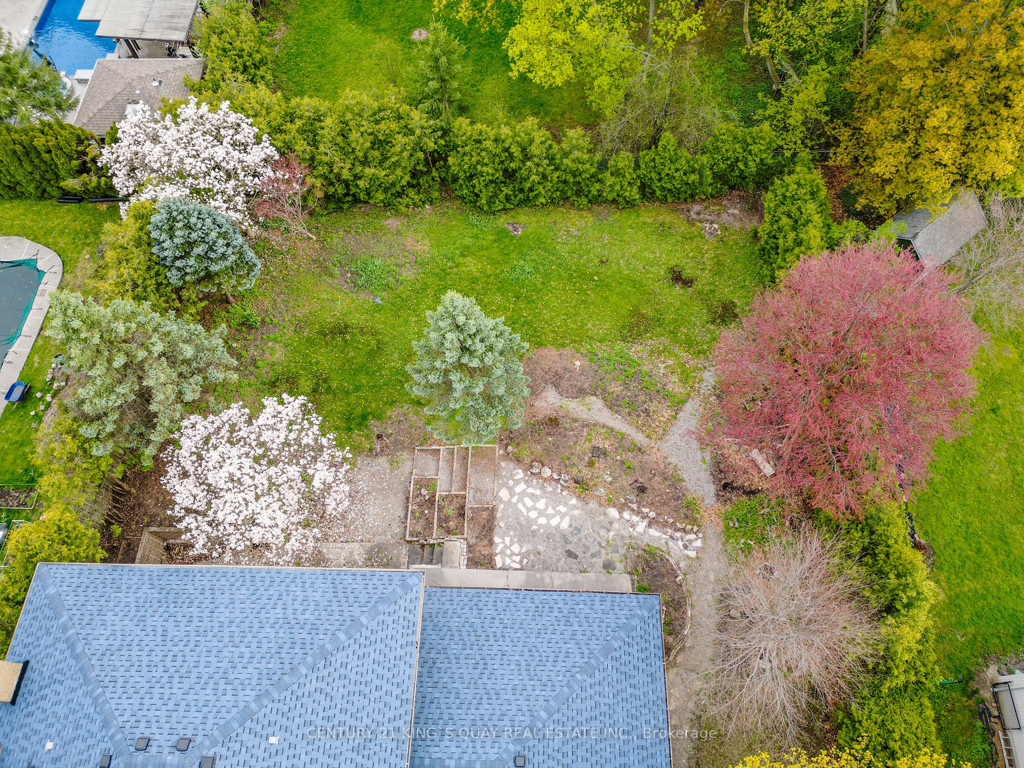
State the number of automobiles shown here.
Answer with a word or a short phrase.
0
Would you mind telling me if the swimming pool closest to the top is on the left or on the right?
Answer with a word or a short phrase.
left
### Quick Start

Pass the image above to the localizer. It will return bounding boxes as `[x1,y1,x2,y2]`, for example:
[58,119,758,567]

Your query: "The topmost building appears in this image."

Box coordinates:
[76,0,211,59]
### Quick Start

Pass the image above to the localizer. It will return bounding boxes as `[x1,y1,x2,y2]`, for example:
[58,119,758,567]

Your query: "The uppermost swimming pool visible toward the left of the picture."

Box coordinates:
[14,0,75,81]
